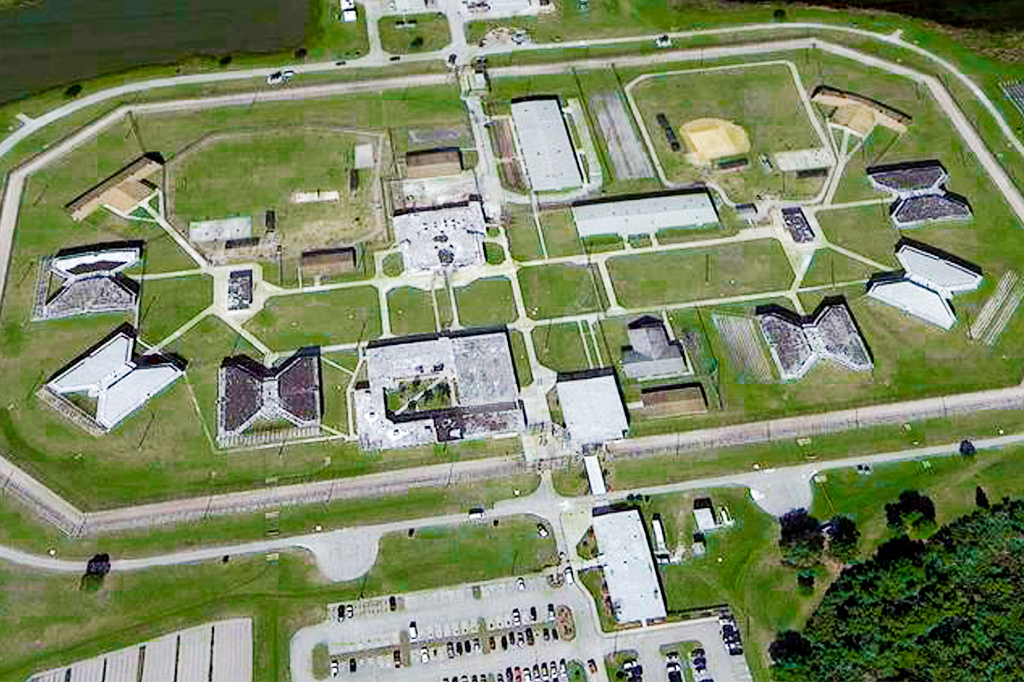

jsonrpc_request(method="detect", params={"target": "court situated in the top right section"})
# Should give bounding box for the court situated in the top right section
[775,145,835,169]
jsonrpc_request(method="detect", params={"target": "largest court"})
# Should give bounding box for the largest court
[189,214,253,243]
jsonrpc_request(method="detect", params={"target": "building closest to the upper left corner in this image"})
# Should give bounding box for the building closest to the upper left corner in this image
[66,159,163,223]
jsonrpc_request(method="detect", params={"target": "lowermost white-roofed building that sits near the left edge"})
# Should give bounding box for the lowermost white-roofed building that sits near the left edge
[48,331,183,434]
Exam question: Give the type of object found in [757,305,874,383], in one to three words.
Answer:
building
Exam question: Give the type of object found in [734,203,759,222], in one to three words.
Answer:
shed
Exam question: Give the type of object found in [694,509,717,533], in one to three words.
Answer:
shed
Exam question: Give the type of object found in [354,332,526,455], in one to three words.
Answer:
building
